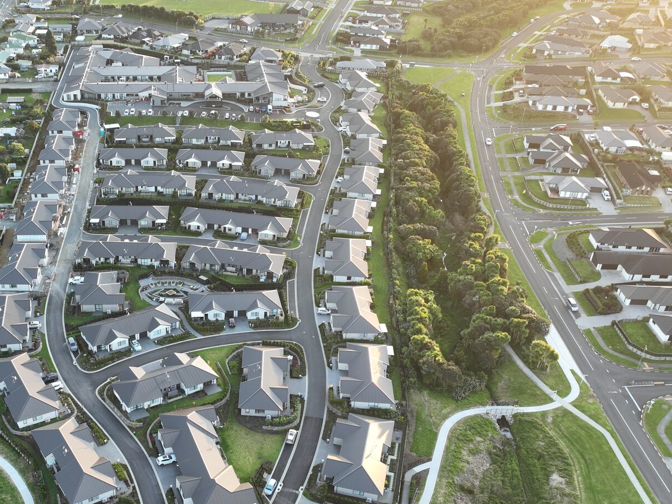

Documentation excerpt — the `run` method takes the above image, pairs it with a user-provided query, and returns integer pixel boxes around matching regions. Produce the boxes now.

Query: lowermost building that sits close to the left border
[30,415,131,504]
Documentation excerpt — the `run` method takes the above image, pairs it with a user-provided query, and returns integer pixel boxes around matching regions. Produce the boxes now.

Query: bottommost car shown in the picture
[264,476,277,493]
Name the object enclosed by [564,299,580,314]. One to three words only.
vehicle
